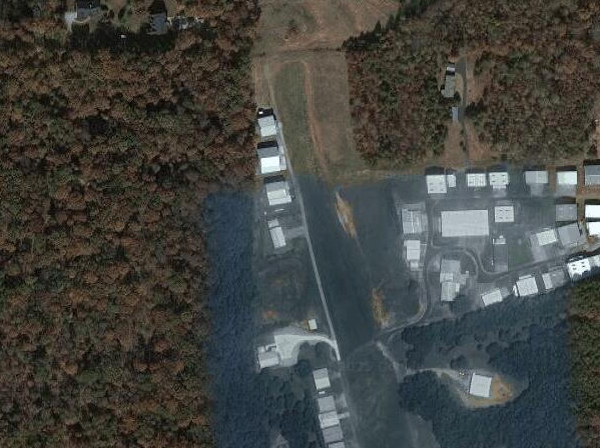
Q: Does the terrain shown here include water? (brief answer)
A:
No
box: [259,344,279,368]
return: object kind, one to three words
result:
house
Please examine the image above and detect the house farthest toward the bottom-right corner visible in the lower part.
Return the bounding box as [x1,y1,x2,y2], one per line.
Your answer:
[470,373,492,397]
